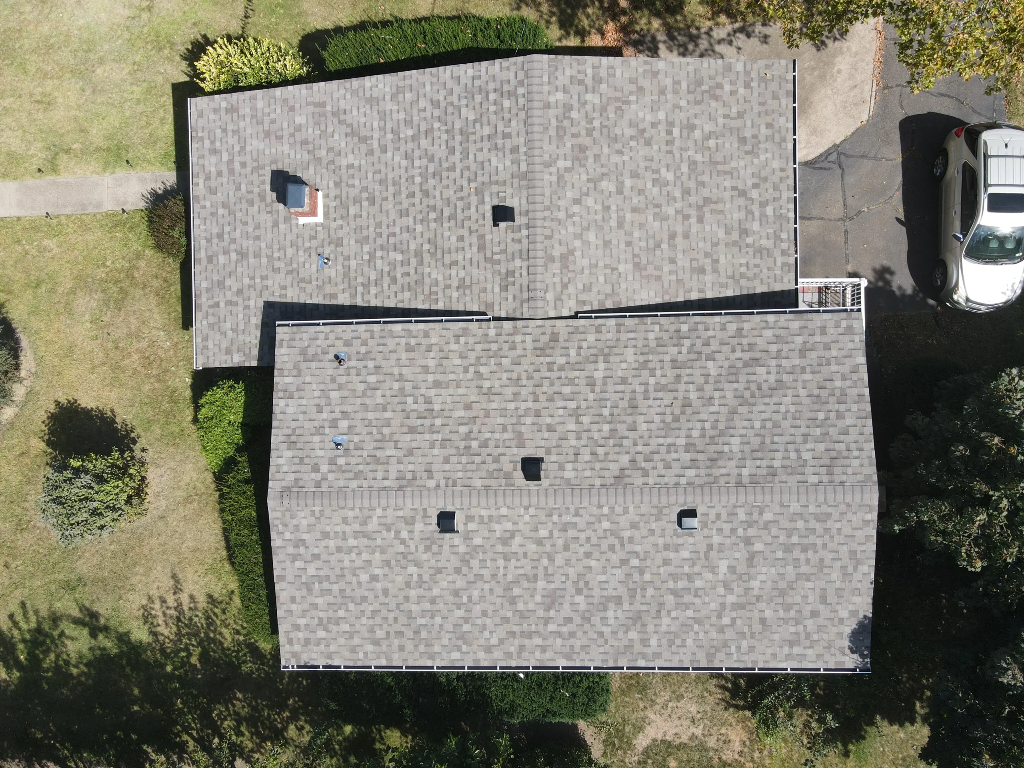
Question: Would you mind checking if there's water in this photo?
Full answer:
No, there is no water in the image.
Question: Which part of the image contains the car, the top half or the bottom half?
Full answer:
The top half of the photo is where the car is.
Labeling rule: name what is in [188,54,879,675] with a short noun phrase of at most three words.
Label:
house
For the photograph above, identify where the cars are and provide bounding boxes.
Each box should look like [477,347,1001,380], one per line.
[930,117,1024,316]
